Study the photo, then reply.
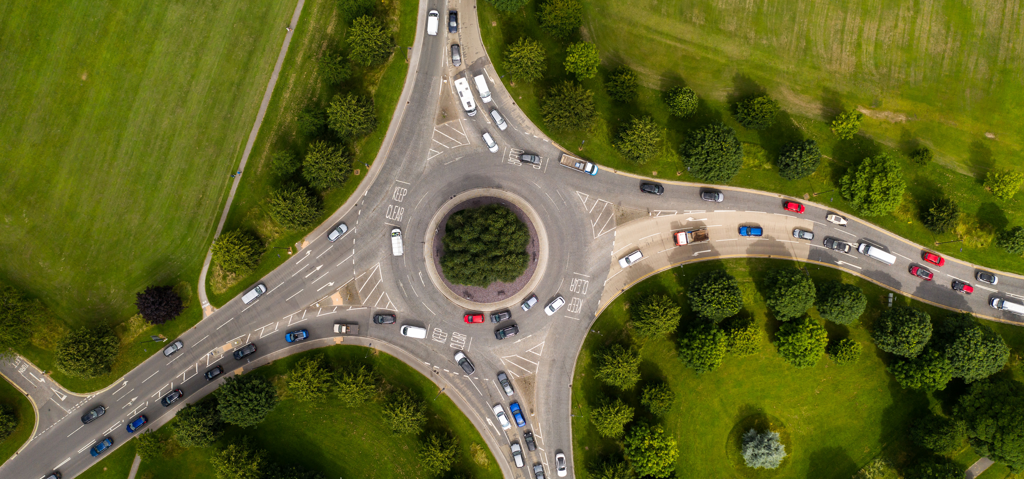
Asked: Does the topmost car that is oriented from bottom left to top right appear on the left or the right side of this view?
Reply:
left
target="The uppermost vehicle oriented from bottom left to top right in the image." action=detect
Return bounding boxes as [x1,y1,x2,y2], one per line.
[326,222,349,243]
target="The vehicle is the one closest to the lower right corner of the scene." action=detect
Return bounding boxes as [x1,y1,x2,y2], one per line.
[985,297,1024,320]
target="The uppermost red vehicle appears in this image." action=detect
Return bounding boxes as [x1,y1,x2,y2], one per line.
[783,201,805,214]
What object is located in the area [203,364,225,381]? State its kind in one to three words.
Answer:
car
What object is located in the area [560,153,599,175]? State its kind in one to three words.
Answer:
truck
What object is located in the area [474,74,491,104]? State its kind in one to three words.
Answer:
vehicle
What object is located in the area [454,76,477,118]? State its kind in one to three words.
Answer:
camper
